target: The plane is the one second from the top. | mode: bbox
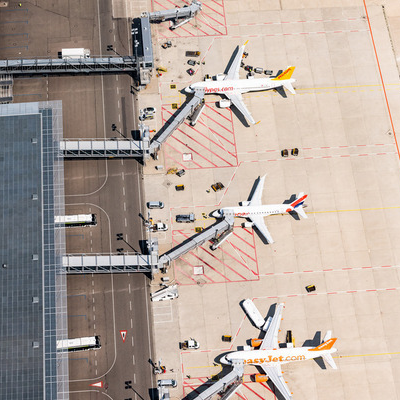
[213,172,306,242]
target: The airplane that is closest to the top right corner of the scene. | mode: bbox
[189,38,299,124]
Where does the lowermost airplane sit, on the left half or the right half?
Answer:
right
